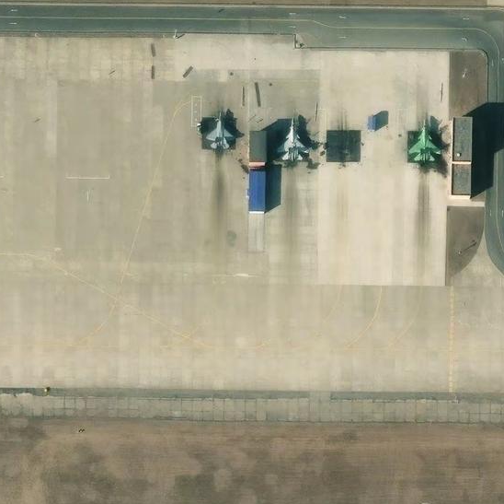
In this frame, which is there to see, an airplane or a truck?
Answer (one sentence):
I can see an airplane in this picture.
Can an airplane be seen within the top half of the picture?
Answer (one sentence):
Yes, an airplane can be seen within the top half of the picture.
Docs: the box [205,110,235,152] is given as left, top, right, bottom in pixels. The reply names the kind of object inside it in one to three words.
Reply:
airplane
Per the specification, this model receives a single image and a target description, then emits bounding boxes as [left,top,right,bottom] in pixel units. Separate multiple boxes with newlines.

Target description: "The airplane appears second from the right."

[278,119,310,161]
